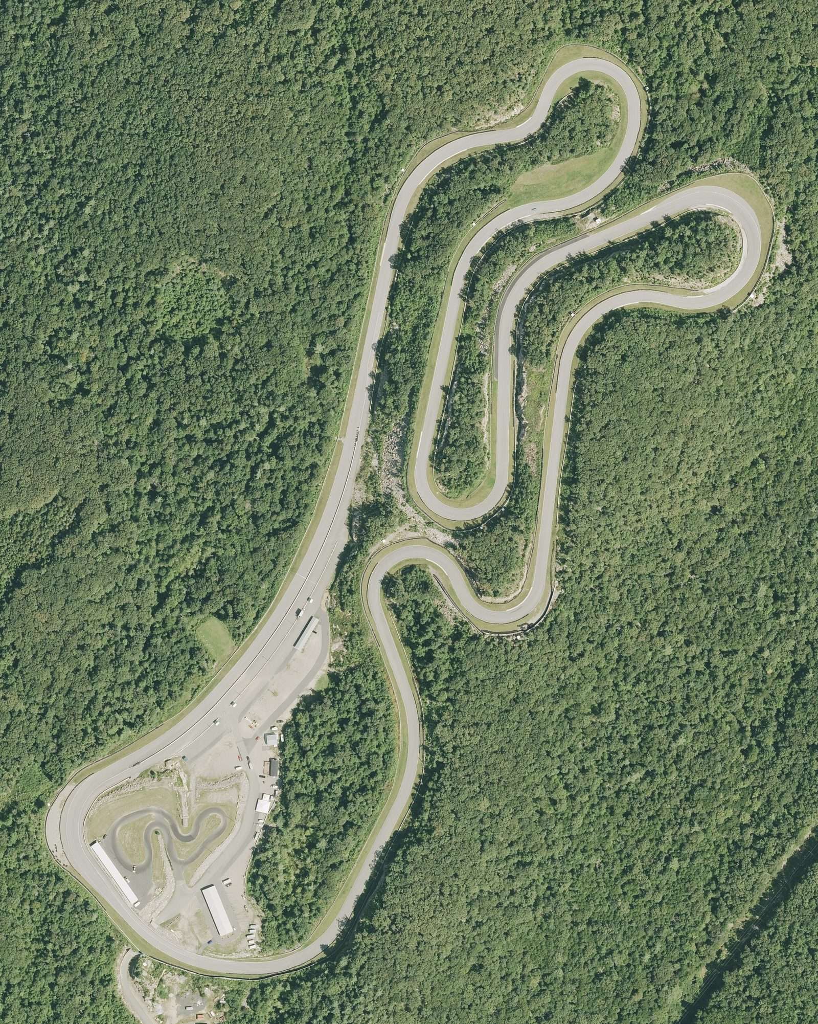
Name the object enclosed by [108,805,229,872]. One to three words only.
race track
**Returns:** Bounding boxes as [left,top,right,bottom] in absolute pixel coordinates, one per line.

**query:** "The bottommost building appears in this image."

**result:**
[204,889,236,940]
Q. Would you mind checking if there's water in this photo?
No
